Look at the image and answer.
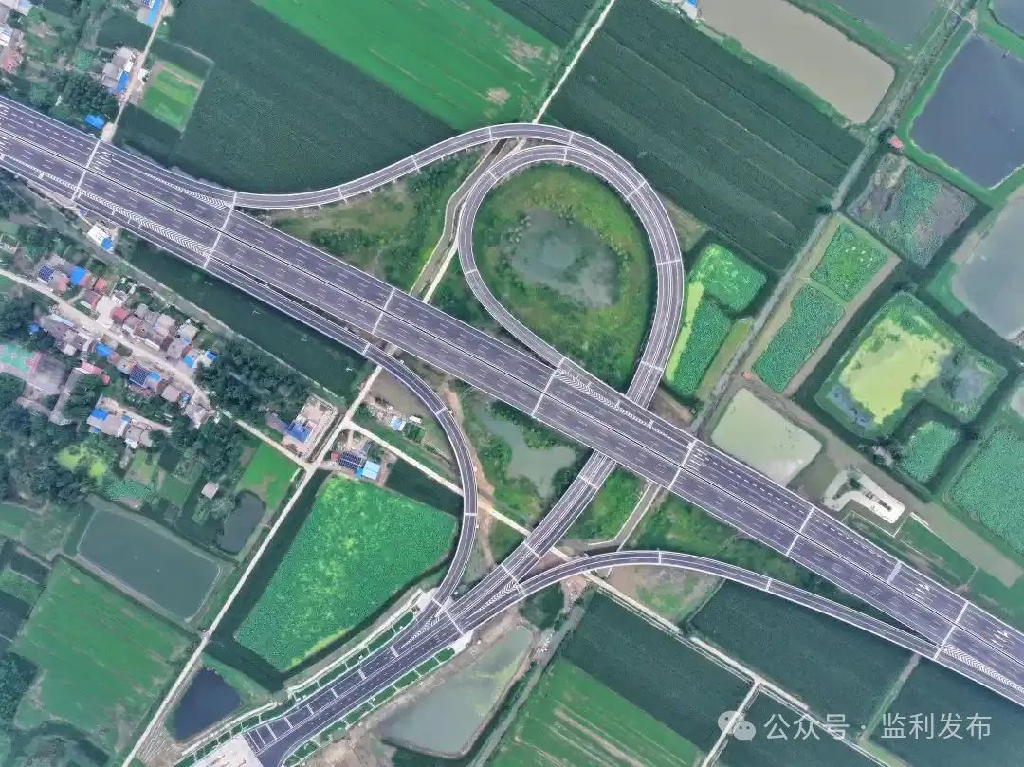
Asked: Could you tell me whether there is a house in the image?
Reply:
Yes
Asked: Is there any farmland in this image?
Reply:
Yes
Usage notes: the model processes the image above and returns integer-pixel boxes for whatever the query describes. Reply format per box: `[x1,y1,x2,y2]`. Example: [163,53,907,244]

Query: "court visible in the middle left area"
[0,343,42,374]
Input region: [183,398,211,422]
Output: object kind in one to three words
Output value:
house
